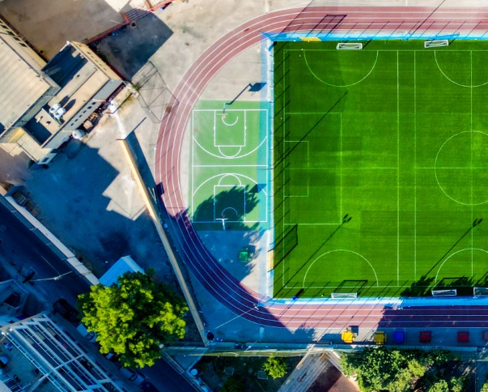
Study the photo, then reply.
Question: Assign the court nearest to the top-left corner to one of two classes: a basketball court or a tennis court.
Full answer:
In the photo, the court nearest to the top-left corner shows up as a basketball court.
